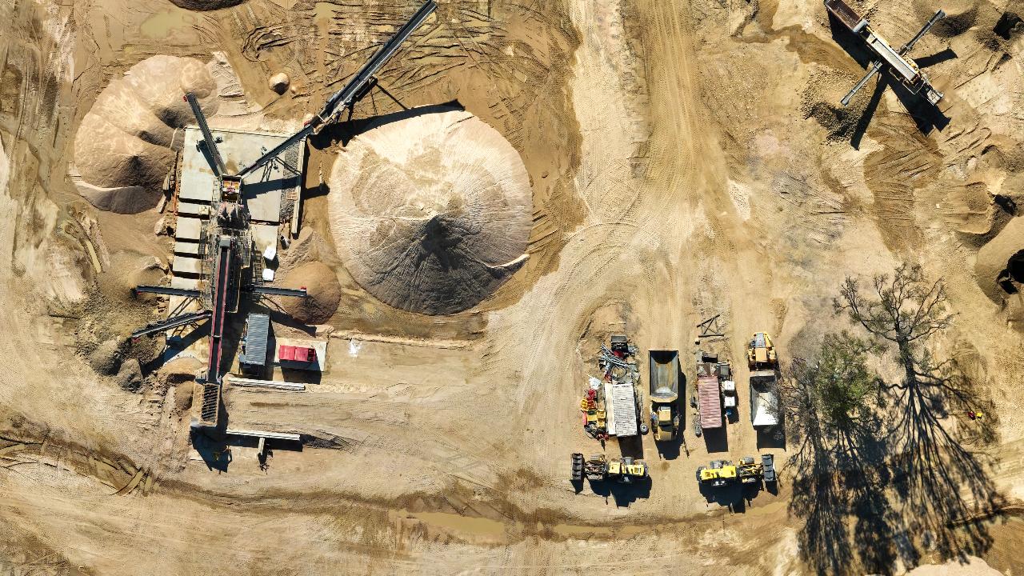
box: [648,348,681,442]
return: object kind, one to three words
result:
truck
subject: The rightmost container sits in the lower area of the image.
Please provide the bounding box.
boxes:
[697,374,724,430]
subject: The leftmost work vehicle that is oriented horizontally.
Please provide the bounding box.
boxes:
[562,456,644,485]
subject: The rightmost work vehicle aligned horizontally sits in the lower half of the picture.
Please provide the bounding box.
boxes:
[697,455,780,492]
